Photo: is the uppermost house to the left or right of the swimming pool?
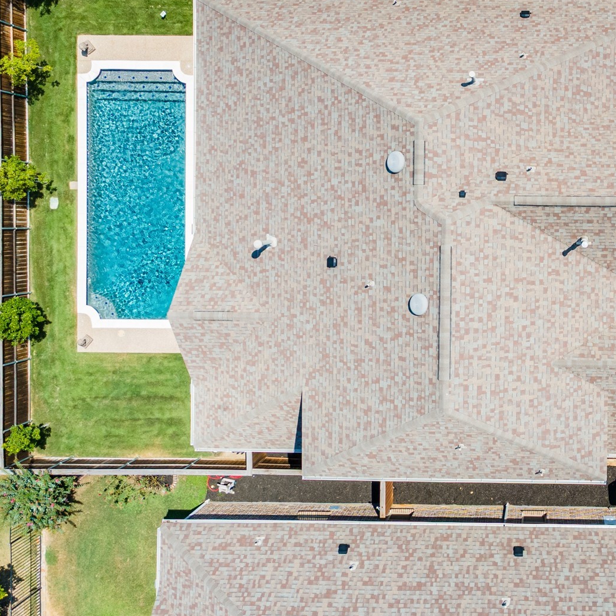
right of it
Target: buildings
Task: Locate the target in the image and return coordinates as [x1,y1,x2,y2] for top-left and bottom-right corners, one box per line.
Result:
[148,496,616,616]
[166,0,616,487]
